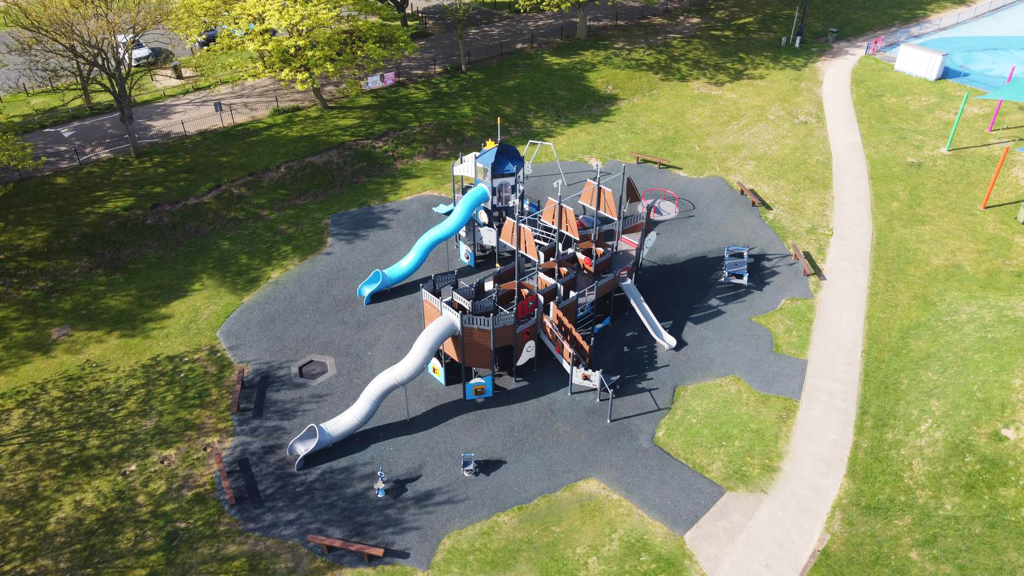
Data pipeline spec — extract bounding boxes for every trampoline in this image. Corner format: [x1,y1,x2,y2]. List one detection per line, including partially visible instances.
[292,354,335,386]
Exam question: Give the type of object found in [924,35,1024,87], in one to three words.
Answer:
swimming pool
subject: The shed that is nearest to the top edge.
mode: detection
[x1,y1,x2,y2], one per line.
[894,39,954,80]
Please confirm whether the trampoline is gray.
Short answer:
Yes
